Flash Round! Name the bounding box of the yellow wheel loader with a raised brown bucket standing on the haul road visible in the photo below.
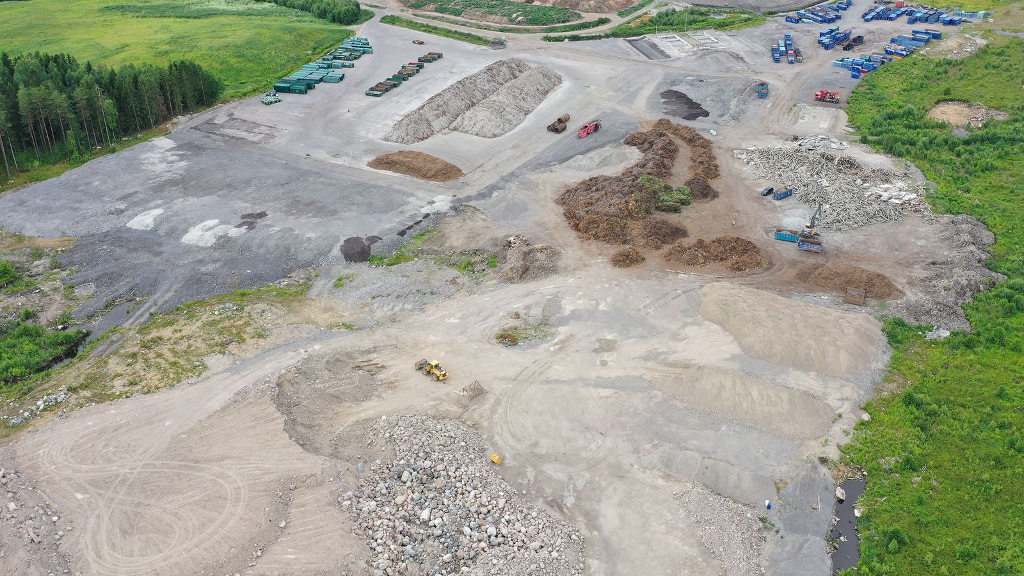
[415,359,451,383]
